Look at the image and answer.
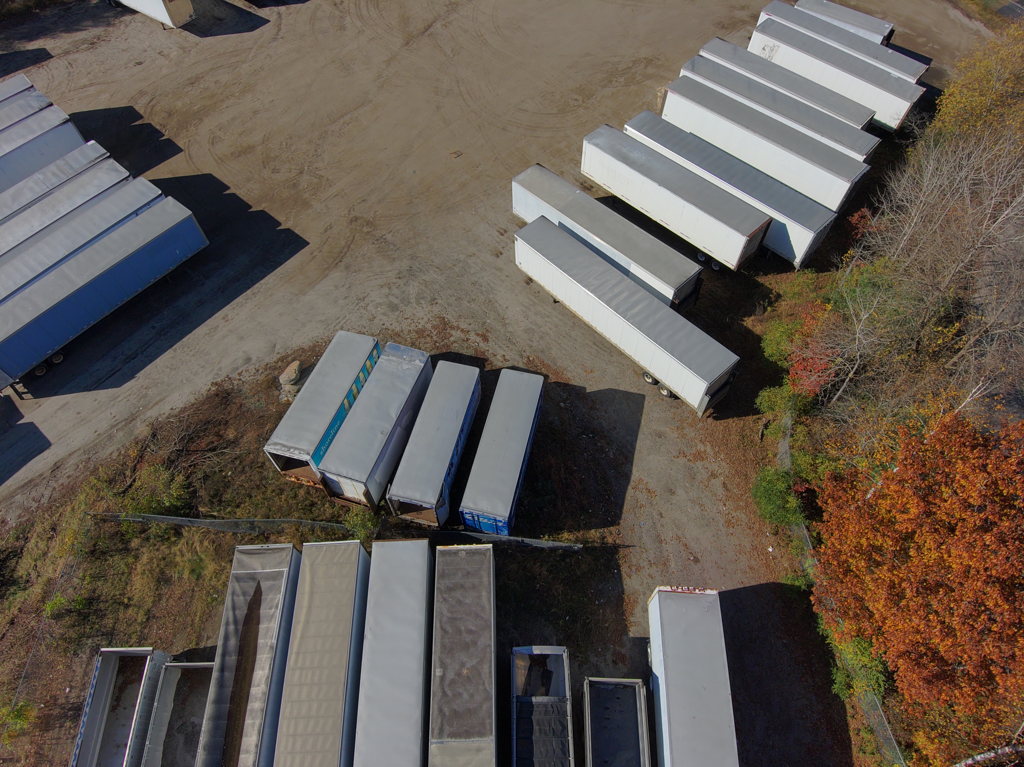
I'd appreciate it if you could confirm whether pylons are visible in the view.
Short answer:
No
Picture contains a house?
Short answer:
No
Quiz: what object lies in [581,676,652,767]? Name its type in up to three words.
trailer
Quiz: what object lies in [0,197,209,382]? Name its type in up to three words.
trailer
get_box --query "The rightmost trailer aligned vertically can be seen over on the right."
[648,585,738,767]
